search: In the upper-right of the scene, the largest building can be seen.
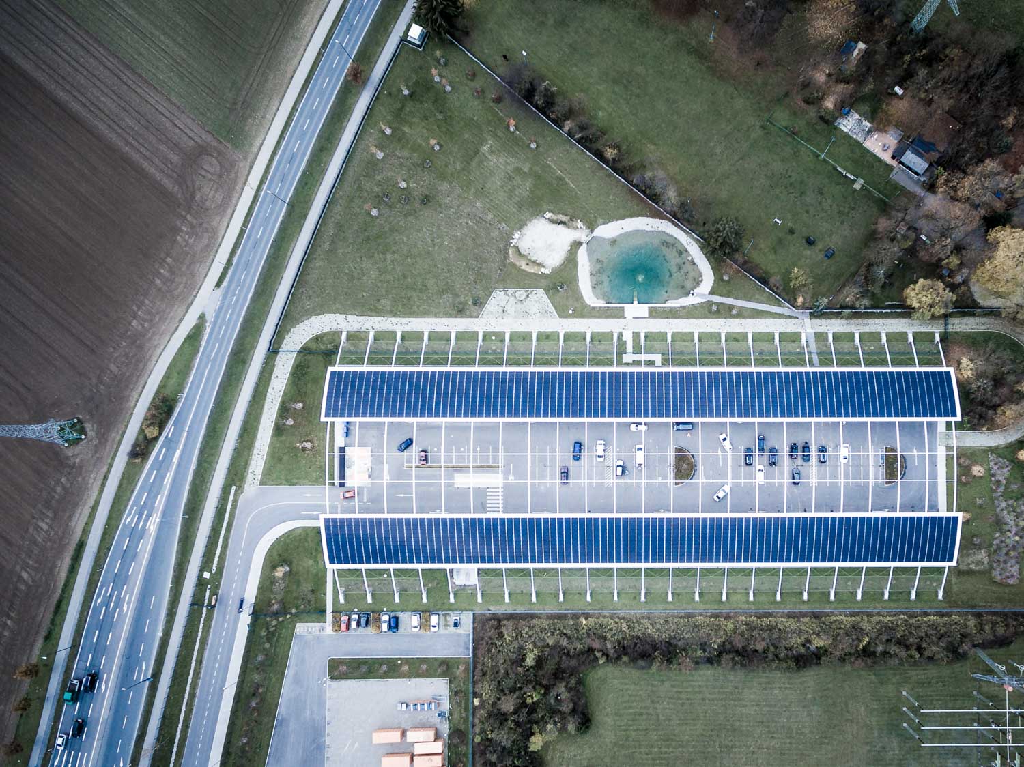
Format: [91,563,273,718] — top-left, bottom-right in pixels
[892,132,938,180]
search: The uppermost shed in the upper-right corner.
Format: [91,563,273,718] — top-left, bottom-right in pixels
[839,40,867,65]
